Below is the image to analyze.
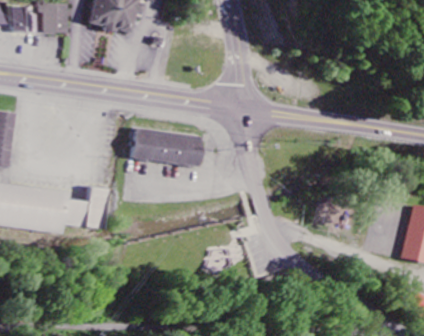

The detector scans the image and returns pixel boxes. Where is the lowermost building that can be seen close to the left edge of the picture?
[0,184,90,236]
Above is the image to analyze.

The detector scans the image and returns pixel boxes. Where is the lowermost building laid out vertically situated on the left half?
[88,188,110,230]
